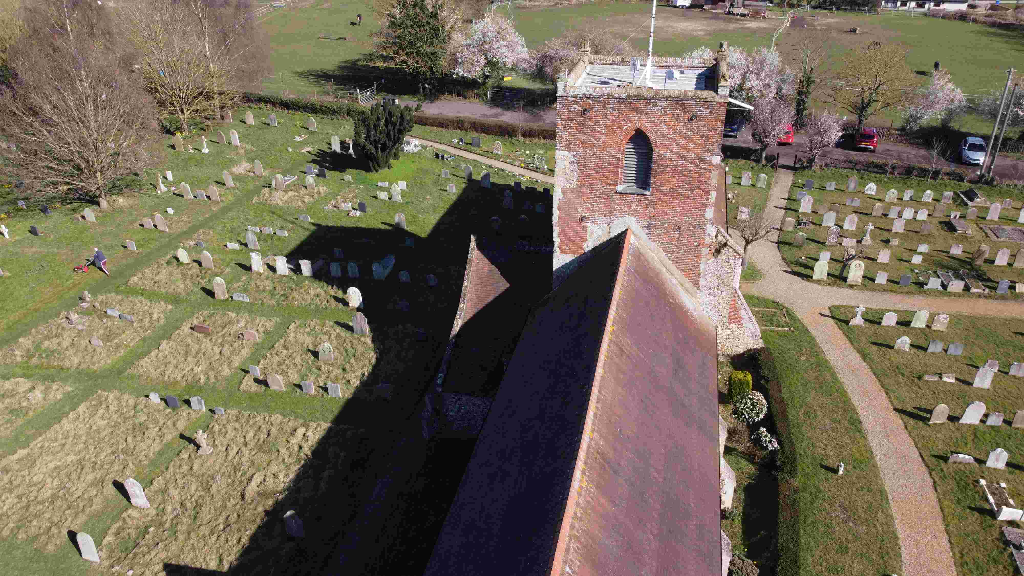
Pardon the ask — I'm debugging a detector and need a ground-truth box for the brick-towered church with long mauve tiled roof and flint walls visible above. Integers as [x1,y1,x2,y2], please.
[418,53,768,576]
